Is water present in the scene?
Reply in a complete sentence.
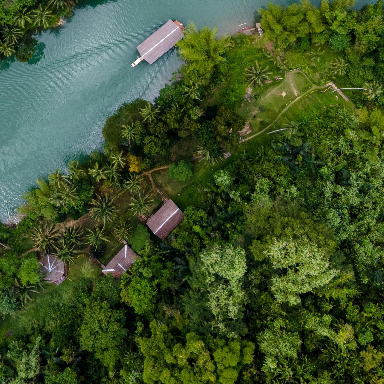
Yes, there's water in this view.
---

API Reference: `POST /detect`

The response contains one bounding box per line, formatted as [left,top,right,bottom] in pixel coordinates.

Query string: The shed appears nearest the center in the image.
[147,199,184,239]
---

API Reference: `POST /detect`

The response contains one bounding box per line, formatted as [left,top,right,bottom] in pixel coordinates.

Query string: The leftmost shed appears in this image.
[40,257,65,286]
